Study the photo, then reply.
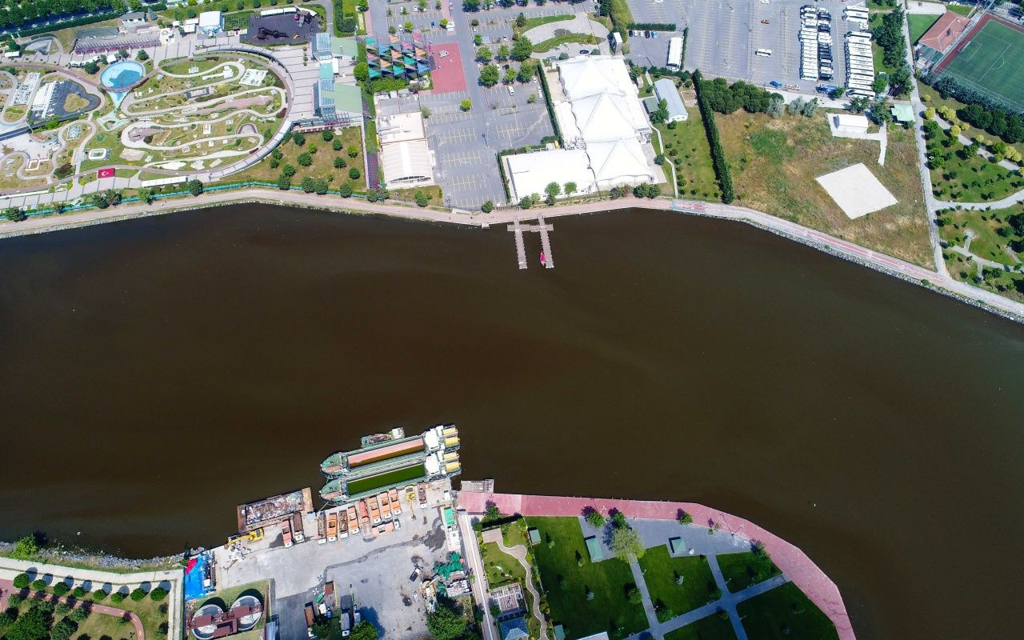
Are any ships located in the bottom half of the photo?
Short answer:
Yes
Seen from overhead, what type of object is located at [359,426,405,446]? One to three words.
boat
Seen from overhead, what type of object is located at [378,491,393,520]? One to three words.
vehicle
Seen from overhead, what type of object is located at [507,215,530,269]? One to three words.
pier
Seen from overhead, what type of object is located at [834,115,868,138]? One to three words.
shed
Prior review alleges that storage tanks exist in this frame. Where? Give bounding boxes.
[186,604,231,640]
[224,596,266,633]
